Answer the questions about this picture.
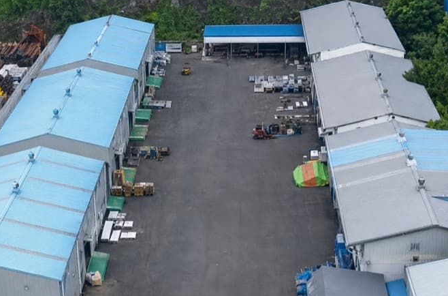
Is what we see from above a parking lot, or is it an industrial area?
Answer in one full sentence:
This image shows an industrial area.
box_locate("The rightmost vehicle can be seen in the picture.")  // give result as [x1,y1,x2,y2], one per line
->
[250,118,278,138]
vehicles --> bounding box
[250,118,278,138]
[182,61,190,77]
